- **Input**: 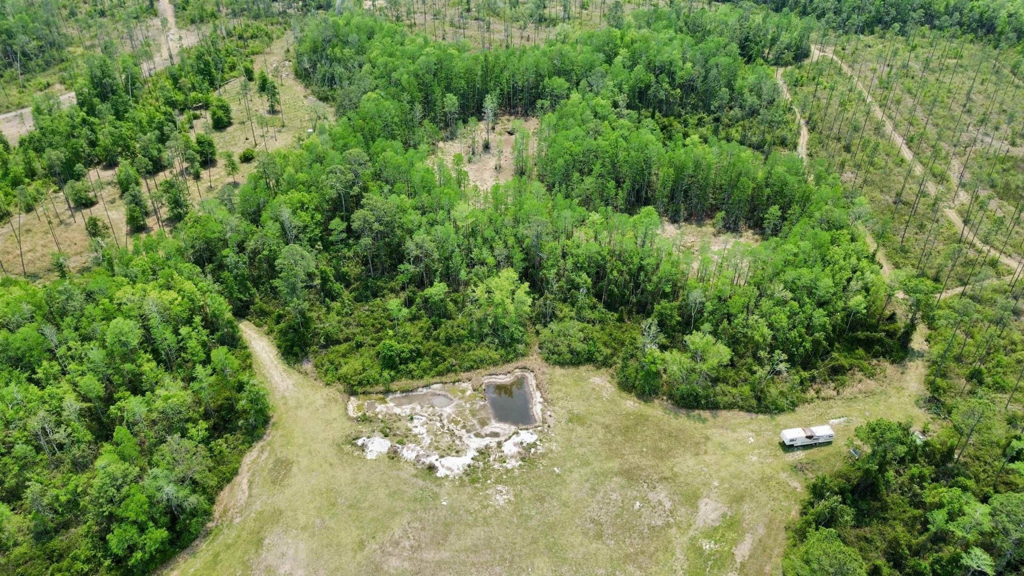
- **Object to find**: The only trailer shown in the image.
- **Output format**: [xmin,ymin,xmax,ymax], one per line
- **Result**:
[781,423,836,446]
